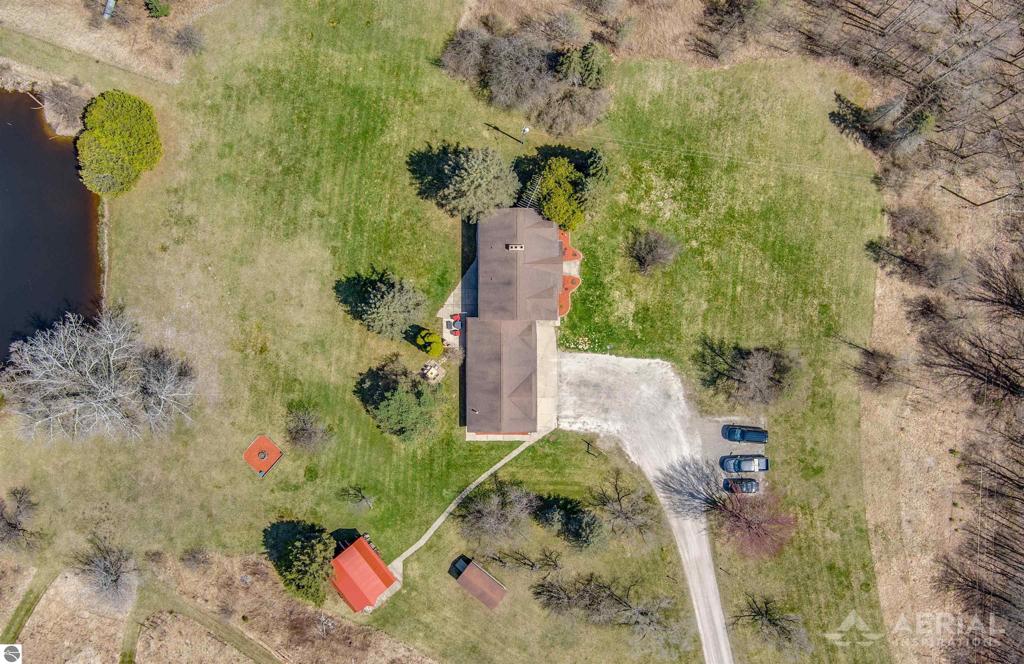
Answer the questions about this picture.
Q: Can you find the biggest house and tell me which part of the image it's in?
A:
center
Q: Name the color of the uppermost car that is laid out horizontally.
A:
blue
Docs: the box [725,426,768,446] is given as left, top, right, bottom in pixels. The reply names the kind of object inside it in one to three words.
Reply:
car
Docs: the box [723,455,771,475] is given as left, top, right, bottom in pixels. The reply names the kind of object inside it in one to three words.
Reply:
vehicle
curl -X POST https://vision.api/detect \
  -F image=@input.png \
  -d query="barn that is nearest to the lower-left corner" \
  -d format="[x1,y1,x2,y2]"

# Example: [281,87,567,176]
[322,537,396,613]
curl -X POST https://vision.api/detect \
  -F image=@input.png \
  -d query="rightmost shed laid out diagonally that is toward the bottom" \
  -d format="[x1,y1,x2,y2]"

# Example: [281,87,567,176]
[453,558,508,609]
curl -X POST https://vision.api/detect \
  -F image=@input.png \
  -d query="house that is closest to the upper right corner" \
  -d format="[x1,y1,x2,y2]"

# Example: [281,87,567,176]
[466,207,563,433]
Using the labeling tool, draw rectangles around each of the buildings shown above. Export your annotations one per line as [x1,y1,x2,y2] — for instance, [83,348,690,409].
[322,537,396,613]
[453,558,508,609]
[466,207,563,433]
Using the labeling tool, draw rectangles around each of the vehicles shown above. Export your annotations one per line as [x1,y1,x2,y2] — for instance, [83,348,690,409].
[725,426,768,446]
[723,455,771,475]
[726,478,760,494]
